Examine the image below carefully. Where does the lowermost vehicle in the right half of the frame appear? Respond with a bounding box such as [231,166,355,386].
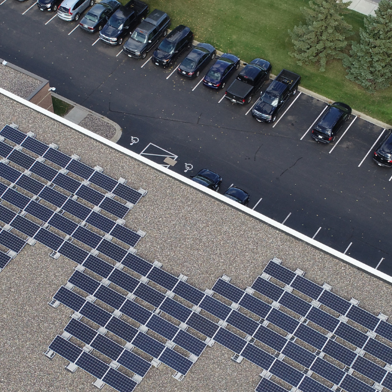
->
[222,183,250,205]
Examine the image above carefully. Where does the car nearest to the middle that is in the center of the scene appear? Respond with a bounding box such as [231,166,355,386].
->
[190,166,222,190]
